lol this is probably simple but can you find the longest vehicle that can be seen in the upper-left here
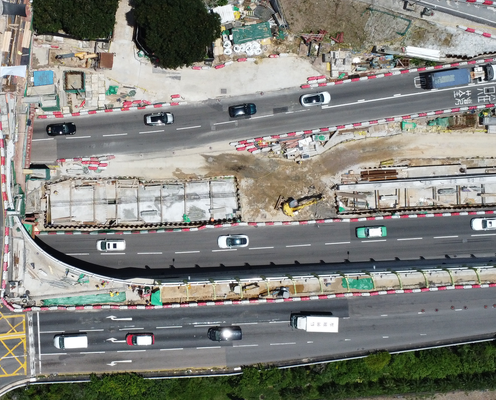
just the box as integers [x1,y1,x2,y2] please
[53,52,114,70]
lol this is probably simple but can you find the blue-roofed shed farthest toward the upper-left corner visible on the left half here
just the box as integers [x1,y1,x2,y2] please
[34,71,55,85]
